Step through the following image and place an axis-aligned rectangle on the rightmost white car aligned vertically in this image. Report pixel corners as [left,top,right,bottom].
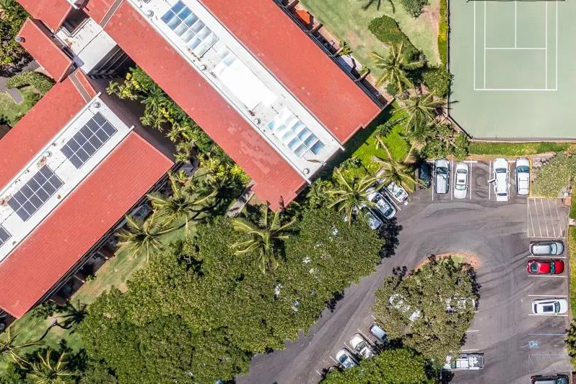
[513,157,532,196]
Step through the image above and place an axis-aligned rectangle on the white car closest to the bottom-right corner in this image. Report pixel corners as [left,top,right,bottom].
[531,298,566,317]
